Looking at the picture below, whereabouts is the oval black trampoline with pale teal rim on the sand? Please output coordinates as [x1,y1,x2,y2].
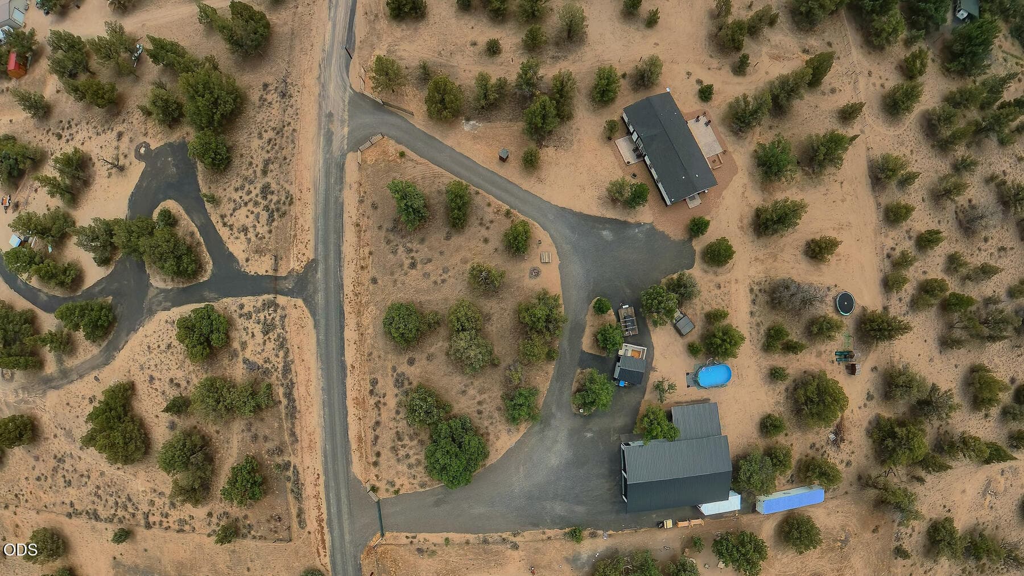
[836,291,855,315]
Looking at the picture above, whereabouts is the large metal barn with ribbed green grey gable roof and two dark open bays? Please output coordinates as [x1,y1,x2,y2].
[618,435,733,513]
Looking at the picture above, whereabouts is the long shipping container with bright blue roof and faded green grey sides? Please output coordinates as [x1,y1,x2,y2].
[756,486,826,515]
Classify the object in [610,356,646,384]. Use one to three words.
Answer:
shed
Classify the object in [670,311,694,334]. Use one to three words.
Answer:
car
